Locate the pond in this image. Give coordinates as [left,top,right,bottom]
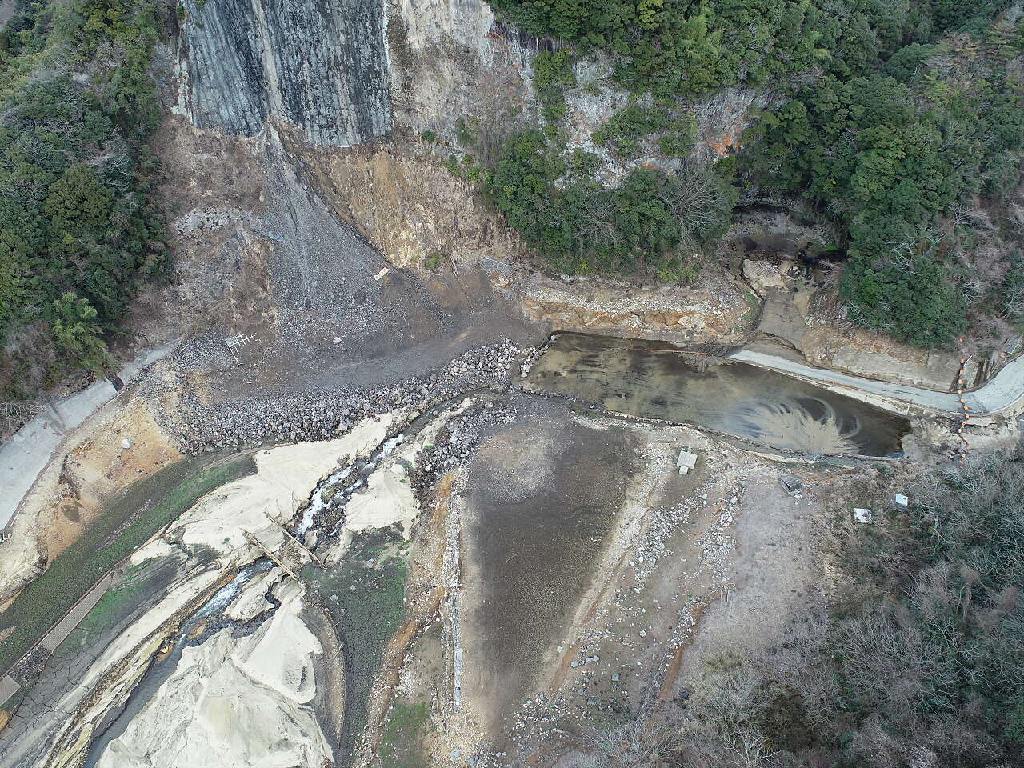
[515,332,913,461]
